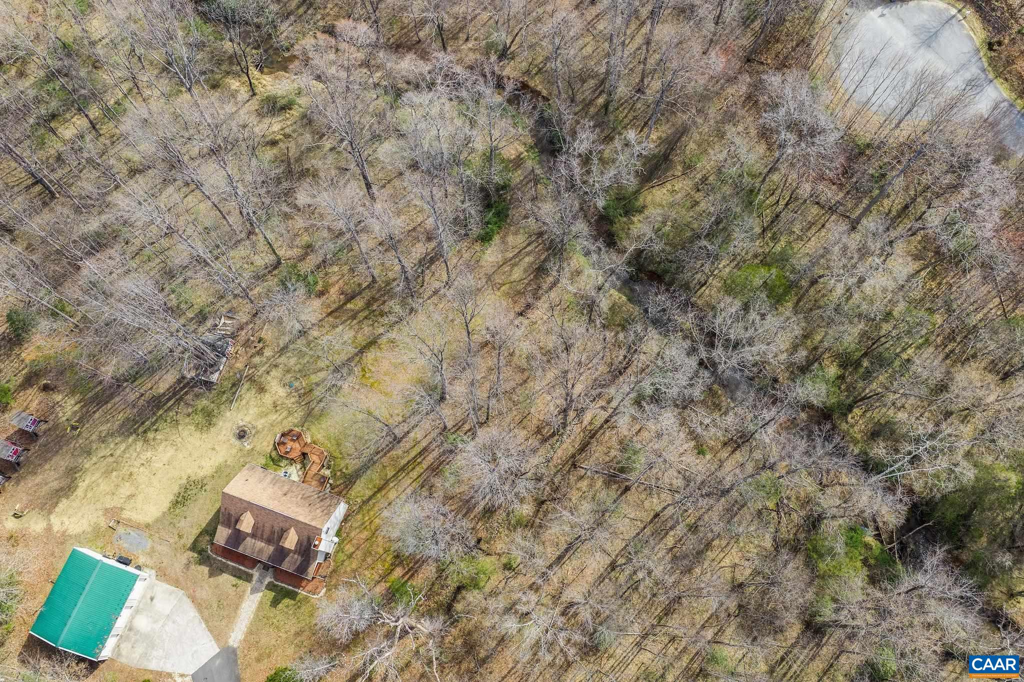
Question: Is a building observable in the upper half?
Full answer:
No, no building is visible in the upper half.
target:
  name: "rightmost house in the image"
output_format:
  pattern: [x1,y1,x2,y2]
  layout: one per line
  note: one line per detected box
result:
[213,463,348,584]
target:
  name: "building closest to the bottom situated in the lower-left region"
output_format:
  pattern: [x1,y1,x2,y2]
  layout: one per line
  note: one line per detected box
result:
[26,547,148,663]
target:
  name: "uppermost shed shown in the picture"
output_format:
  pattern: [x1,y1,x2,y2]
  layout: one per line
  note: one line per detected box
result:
[1,407,43,438]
